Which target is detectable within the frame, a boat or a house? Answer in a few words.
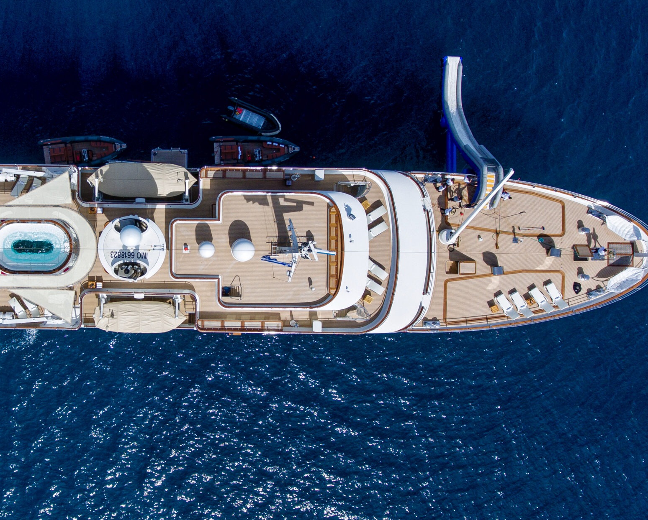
boat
